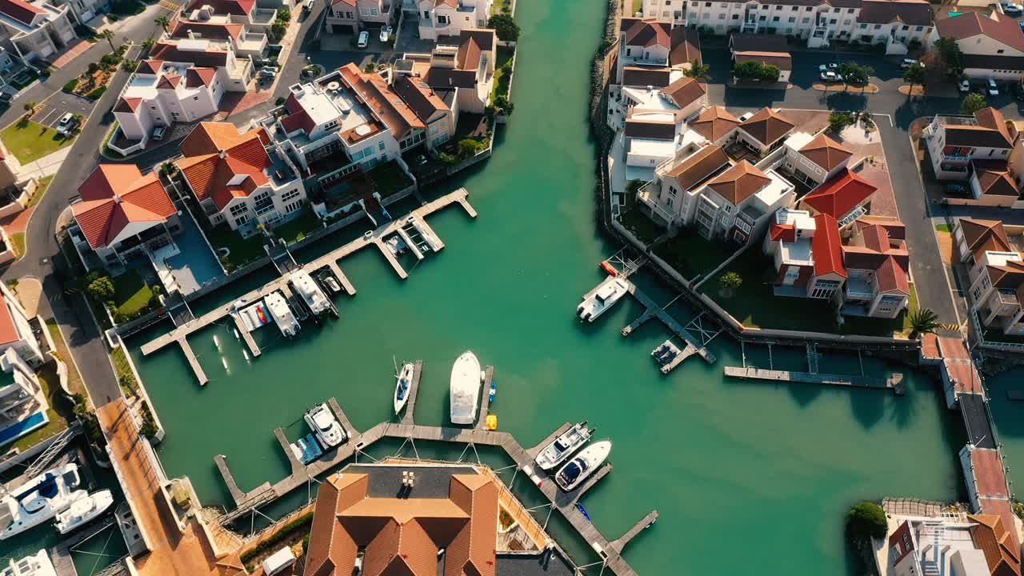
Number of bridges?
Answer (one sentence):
In total, 2 bridges can be seen.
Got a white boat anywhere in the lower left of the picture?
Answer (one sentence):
Yes, you'll find a white boat in the lower left of the picture.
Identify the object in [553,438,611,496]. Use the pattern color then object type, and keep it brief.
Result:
white boat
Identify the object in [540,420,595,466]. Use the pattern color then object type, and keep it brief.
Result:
white boat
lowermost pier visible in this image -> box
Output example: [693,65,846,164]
[48,508,119,576]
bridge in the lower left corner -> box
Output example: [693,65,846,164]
[93,398,194,554]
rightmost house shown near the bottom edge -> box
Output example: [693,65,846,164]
[890,517,1020,576]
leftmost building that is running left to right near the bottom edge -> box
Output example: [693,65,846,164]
[304,463,580,576]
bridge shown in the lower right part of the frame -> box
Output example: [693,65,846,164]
[918,332,1017,518]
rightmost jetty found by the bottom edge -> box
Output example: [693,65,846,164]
[272,360,660,576]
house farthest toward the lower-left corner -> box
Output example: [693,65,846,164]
[0,374,53,429]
